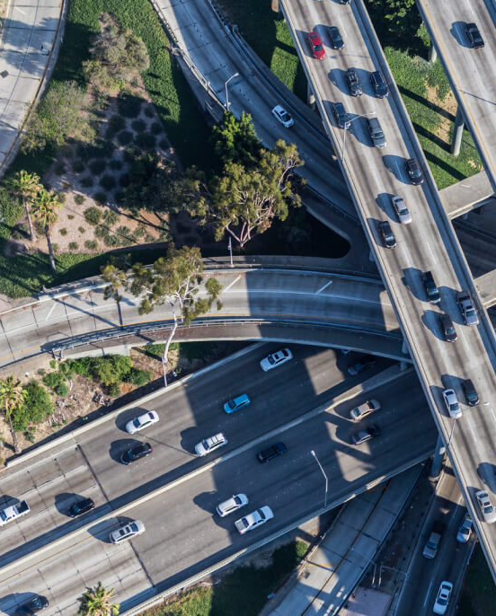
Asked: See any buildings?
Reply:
No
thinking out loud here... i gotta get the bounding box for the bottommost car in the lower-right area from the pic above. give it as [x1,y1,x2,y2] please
[434,582,452,615]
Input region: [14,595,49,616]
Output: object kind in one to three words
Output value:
car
